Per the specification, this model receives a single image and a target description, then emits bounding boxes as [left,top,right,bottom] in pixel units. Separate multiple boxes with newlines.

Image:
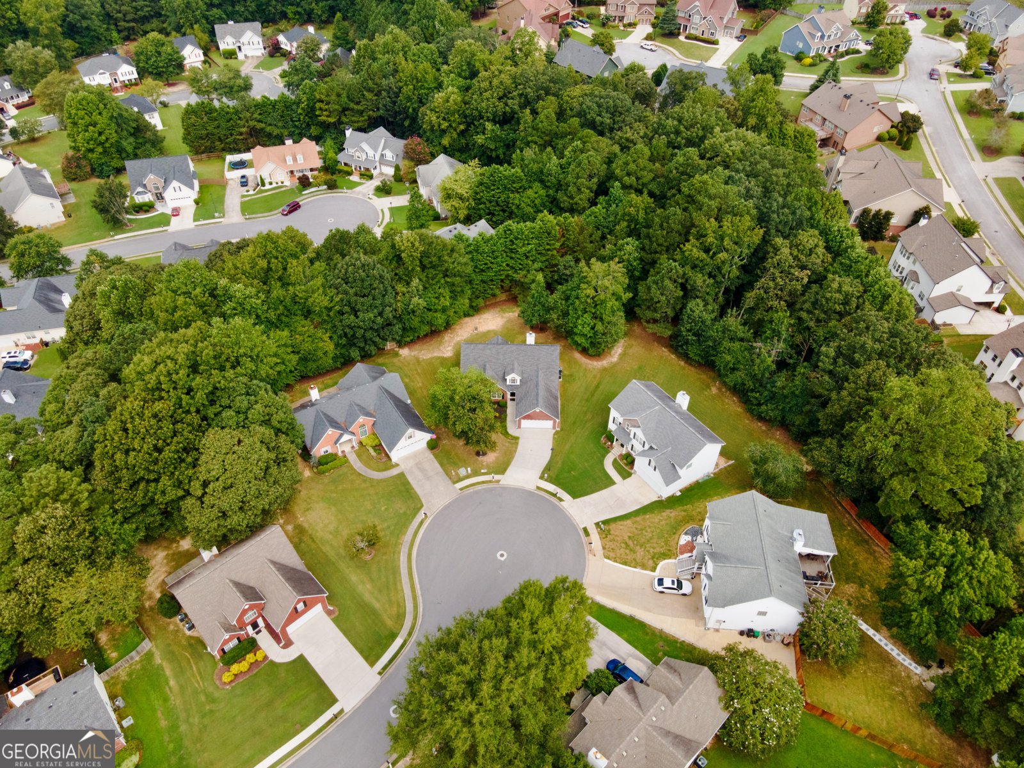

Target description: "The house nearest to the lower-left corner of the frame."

[0,647,128,768]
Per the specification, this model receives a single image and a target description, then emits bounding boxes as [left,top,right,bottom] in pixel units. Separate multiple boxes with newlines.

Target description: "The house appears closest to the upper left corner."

[0,72,38,115]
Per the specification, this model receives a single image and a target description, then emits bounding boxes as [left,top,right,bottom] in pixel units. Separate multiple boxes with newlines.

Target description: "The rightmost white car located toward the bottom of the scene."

[653,574,694,594]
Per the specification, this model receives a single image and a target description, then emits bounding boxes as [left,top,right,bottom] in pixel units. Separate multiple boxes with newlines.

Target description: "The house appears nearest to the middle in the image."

[459,324,560,432]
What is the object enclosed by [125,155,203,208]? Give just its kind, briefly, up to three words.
house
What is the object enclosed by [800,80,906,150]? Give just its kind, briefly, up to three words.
house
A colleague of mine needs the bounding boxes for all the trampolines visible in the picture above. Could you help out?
[228,158,249,169]
[0,651,45,693]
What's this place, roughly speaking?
residential area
